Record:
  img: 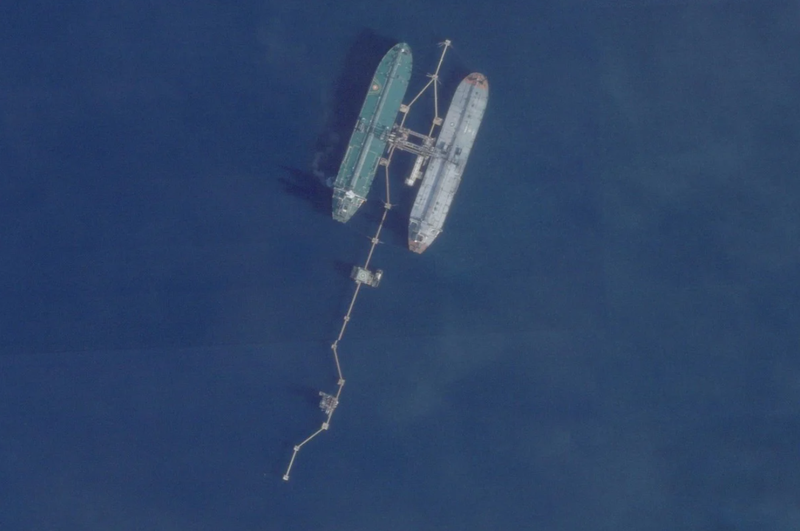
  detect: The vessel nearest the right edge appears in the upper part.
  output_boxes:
[409,73,489,254]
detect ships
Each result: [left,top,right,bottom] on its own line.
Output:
[409,73,489,254]
[334,42,412,221]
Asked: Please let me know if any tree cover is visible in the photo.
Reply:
No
